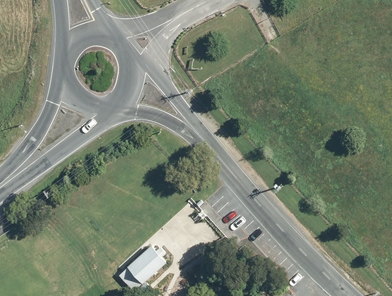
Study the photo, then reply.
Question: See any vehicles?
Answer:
Yes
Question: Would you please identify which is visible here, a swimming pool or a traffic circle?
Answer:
traffic circle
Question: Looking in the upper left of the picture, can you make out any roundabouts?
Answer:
Yes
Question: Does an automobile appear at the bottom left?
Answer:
No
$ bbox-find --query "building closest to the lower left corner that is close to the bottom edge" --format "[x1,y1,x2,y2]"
[119,246,166,290]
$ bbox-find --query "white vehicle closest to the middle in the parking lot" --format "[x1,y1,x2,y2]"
[230,216,247,232]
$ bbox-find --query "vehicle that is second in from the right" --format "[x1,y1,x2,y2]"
[248,228,264,242]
